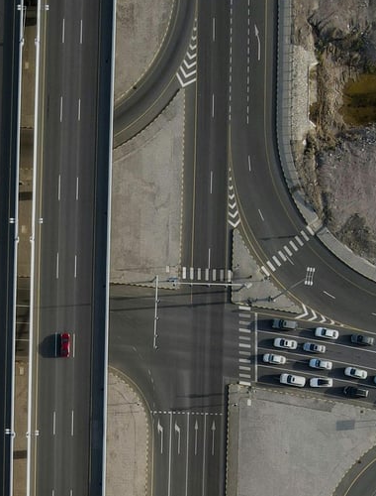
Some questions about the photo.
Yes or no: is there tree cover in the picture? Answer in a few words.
No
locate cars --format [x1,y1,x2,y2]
[281,374,304,387]
[310,376,333,389]
[310,359,332,370]
[274,319,296,330]
[274,337,297,350]
[344,367,368,379]
[303,343,326,354]
[263,354,286,365]
[351,333,375,346]
[316,328,338,340]
[344,387,368,399]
